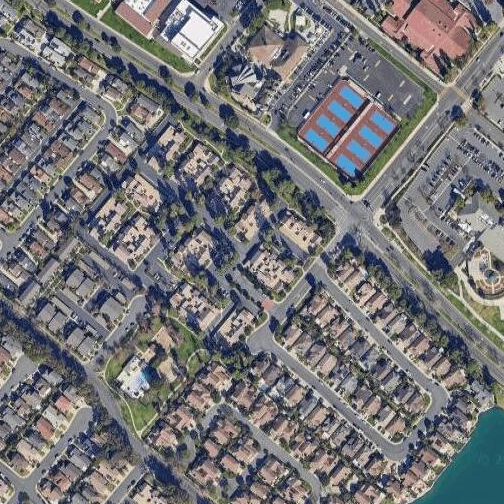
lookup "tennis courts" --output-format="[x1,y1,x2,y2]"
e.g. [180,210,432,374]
[309,107,347,143]
[332,79,369,113]
[352,118,389,152]
[297,121,335,157]
[328,147,365,181]
[340,133,377,167]
[320,93,358,128]
[363,104,400,139]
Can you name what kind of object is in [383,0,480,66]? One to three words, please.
building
